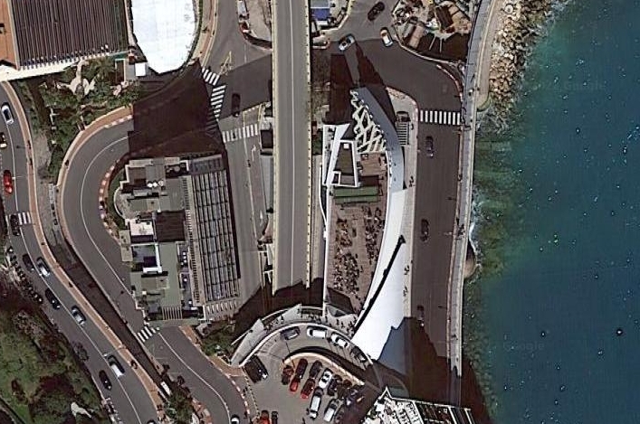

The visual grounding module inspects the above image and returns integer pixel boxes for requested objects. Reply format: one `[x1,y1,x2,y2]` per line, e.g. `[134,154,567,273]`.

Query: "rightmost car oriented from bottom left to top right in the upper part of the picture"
[368,1,386,20]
